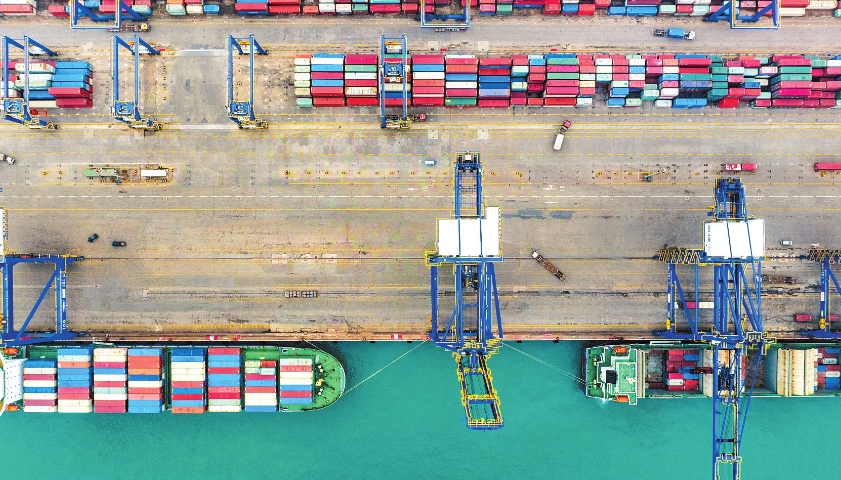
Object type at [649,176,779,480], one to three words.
container crane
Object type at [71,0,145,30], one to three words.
container crane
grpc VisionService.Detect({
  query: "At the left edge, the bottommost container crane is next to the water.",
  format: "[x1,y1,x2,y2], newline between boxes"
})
[0,201,86,359]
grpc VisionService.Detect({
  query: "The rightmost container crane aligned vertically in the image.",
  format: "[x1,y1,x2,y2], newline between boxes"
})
[796,217,841,344]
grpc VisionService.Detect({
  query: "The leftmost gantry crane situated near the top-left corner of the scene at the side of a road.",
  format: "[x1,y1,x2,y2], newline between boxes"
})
[0,35,64,130]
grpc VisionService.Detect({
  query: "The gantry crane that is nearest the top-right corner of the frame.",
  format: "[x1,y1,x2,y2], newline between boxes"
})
[696,0,780,30]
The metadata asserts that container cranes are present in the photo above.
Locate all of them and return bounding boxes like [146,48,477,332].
[796,217,841,344]
[71,0,145,30]
[411,0,470,30]
[417,151,509,432]
[109,35,165,130]
[696,0,780,30]
[377,35,412,130]
[649,176,779,480]
[224,35,272,130]
[0,35,64,130]
[0,201,86,359]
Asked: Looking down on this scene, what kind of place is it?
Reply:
port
